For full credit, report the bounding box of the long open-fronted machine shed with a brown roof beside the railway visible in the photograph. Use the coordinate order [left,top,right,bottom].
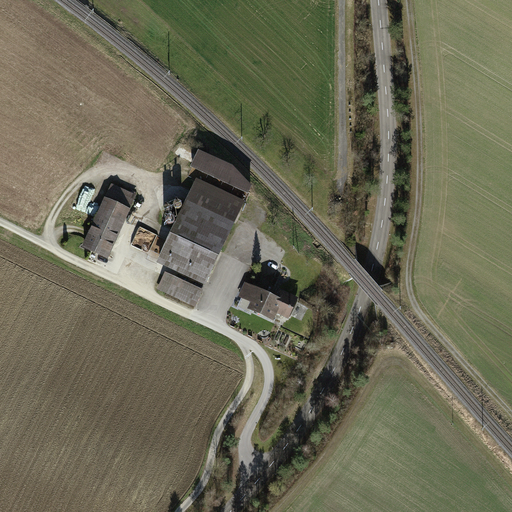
[190,148,250,193]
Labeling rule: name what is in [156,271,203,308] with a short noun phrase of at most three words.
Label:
shed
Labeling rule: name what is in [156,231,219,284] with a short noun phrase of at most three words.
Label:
building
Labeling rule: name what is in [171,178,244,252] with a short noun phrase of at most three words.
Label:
barn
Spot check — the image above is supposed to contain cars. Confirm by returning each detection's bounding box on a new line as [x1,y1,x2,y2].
[98,256,107,263]
[268,262,277,268]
